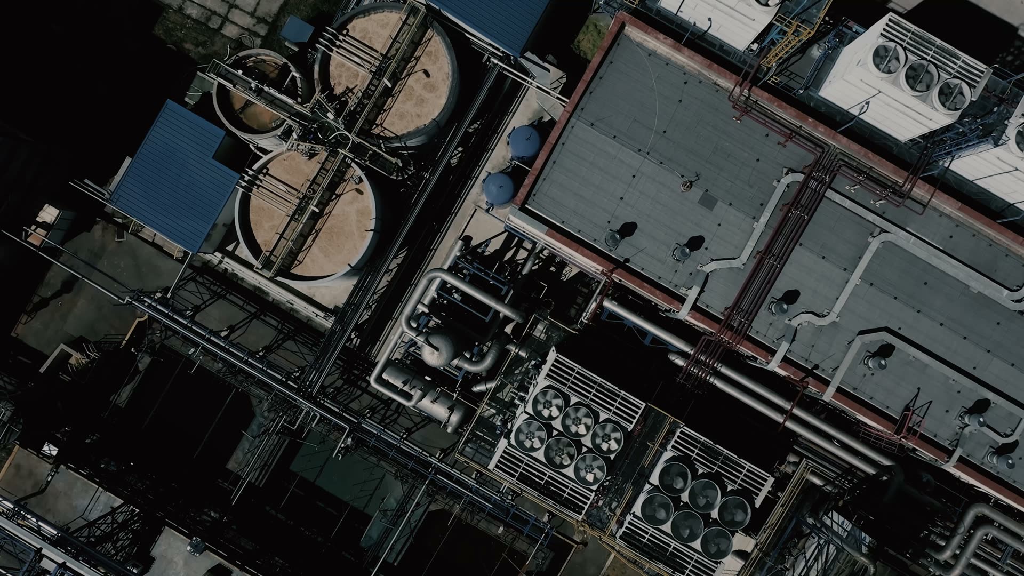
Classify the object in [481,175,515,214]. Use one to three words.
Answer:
storage tank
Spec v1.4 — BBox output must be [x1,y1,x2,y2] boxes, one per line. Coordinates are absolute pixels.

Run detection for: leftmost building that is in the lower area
[90,349,239,504]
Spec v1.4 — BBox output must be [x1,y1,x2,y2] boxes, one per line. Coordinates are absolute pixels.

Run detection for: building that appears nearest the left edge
[0,130,69,227]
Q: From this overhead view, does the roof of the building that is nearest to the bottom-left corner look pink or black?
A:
black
